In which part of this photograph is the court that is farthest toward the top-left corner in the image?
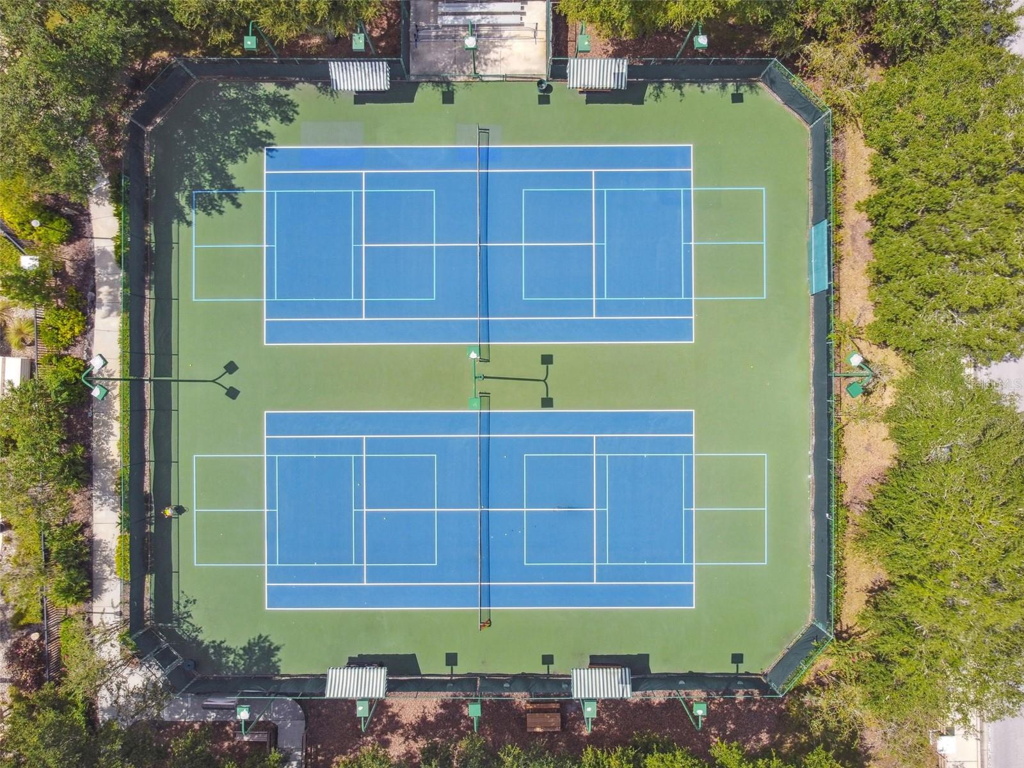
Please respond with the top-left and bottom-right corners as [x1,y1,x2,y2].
[193,189,435,301]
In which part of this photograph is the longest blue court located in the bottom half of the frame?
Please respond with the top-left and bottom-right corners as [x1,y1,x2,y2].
[265,410,695,610]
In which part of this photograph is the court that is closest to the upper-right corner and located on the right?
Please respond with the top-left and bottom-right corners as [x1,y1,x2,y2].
[523,187,765,299]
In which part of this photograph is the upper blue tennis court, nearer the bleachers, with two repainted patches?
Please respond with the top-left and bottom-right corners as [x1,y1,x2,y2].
[264,145,693,345]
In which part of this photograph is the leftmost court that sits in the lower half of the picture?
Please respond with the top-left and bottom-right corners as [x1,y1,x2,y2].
[194,455,436,566]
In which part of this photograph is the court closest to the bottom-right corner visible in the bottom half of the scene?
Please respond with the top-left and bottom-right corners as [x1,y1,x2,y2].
[524,453,767,565]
